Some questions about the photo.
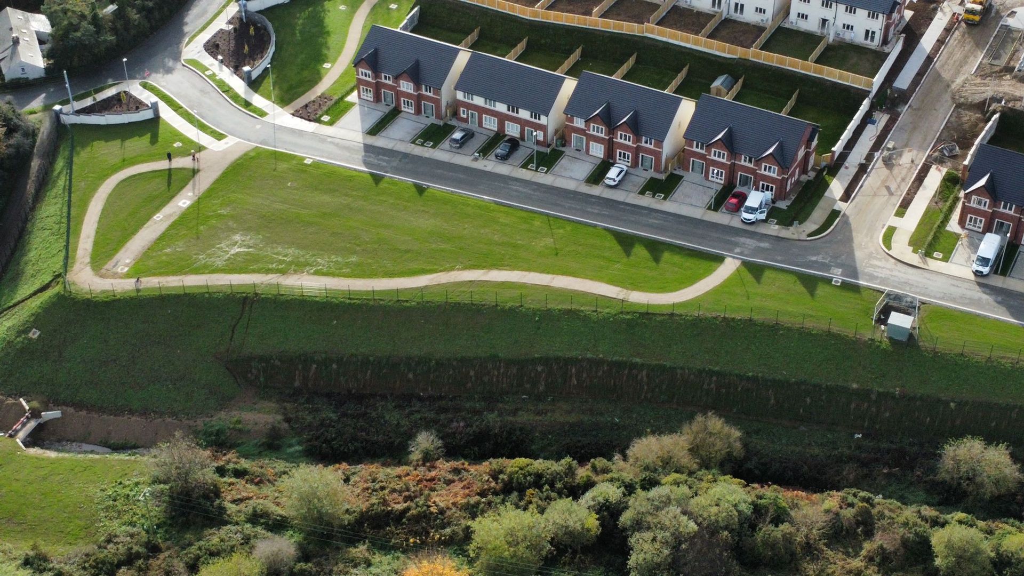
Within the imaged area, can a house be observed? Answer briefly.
Yes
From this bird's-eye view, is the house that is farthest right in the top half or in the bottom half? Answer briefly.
top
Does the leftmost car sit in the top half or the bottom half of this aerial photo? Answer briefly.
top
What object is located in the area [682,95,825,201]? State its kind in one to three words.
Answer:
house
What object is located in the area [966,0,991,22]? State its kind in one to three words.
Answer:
truck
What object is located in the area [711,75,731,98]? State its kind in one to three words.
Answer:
shed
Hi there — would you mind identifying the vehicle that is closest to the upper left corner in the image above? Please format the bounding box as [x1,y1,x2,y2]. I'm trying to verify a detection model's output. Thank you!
[449,125,475,148]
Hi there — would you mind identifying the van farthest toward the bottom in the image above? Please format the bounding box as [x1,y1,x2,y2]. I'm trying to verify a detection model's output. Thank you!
[977,227,1008,270]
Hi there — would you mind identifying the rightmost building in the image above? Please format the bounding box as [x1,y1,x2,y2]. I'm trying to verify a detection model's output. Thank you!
[958,142,1024,239]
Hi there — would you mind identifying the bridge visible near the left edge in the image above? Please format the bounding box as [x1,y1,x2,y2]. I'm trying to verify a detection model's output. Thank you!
[0,399,61,451]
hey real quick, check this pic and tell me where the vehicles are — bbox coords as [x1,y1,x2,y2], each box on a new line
[977,227,1008,270]
[495,138,520,159]
[606,163,631,185]
[745,185,777,219]
[726,189,750,211]
[449,125,475,148]
[966,0,991,22]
